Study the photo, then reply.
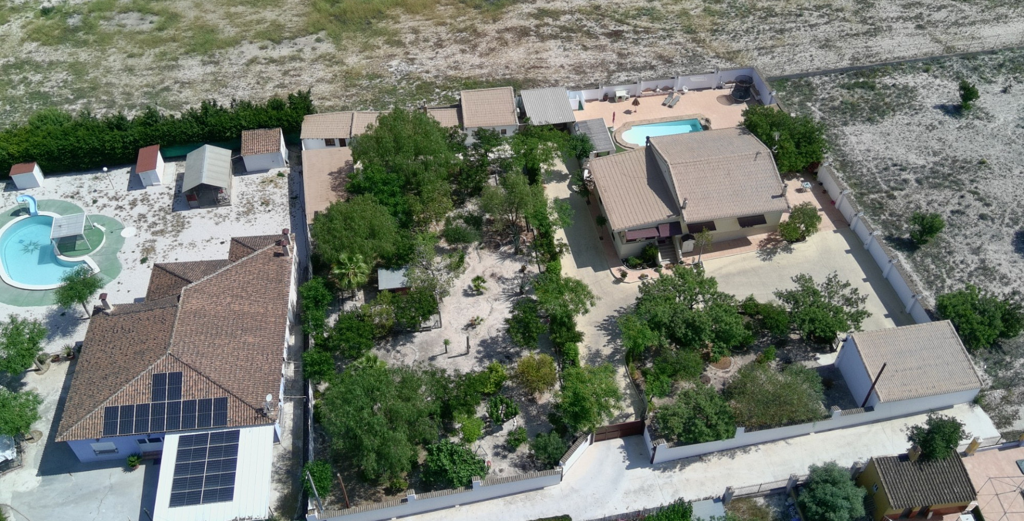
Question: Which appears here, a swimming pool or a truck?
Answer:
swimming pool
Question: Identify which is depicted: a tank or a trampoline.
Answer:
trampoline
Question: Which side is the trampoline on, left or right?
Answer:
right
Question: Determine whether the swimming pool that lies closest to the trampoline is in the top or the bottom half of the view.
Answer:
top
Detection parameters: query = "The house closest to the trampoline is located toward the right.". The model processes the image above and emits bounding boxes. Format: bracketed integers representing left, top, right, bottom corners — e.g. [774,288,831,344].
[587,126,793,263]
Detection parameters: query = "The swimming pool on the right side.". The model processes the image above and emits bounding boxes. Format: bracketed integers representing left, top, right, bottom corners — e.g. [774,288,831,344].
[613,111,714,149]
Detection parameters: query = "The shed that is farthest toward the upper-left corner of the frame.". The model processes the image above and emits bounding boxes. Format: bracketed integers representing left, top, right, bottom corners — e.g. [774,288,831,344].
[9,161,44,189]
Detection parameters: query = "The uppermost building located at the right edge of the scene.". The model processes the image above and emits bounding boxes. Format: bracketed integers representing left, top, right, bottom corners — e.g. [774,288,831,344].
[838,314,987,421]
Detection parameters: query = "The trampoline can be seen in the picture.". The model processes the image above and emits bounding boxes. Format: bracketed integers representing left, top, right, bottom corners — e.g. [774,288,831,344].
[730,75,756,105]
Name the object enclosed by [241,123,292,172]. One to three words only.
shed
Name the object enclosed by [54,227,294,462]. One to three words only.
house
